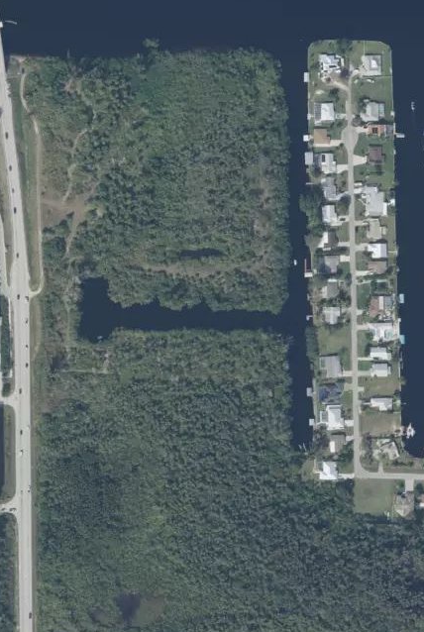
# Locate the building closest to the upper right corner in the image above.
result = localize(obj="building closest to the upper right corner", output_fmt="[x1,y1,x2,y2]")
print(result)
[361,55,382,74]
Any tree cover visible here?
Yes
